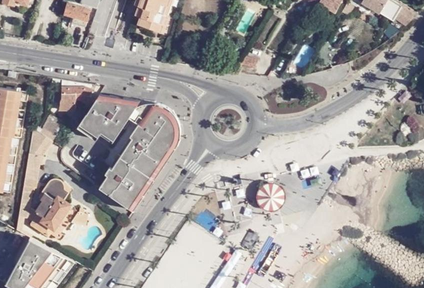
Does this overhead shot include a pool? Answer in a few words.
Yes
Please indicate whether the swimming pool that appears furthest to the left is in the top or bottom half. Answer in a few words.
bottom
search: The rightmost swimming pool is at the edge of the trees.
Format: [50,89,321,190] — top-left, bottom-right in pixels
[292,42,317,69]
